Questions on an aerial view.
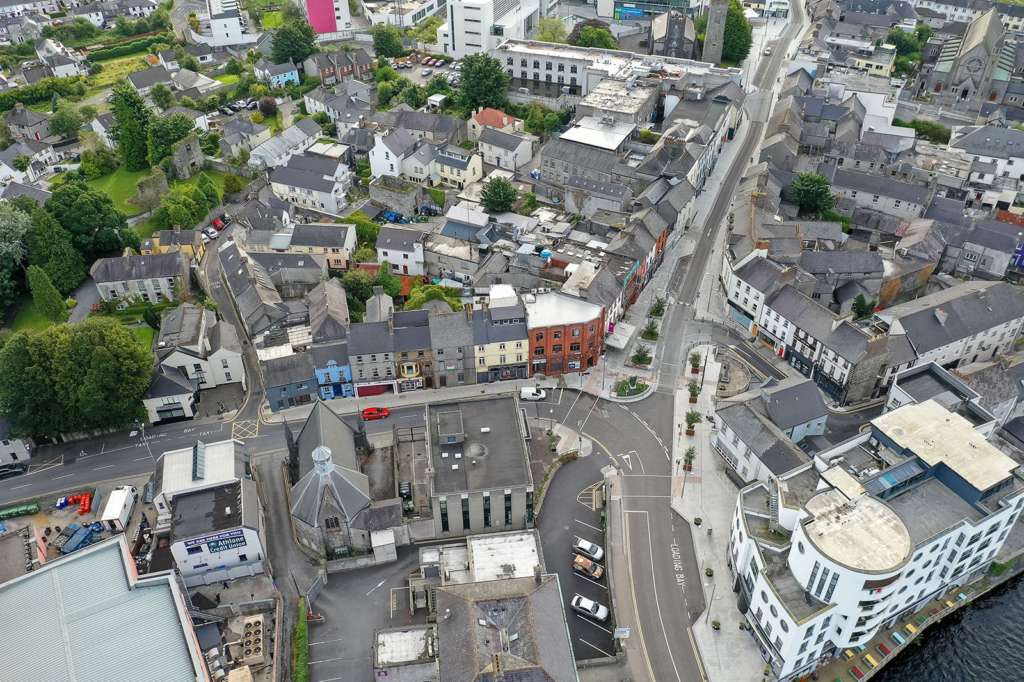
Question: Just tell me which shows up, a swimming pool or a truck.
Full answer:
The one in the frame is a truck.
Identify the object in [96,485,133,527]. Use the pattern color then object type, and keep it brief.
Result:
white truck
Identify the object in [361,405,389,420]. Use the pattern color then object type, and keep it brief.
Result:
red car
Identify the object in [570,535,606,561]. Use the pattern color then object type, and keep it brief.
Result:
white car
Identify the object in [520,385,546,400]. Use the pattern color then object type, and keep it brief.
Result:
white vehicle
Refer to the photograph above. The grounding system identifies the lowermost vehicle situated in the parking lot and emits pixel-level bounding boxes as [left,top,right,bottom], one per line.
[569,592,610,621]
